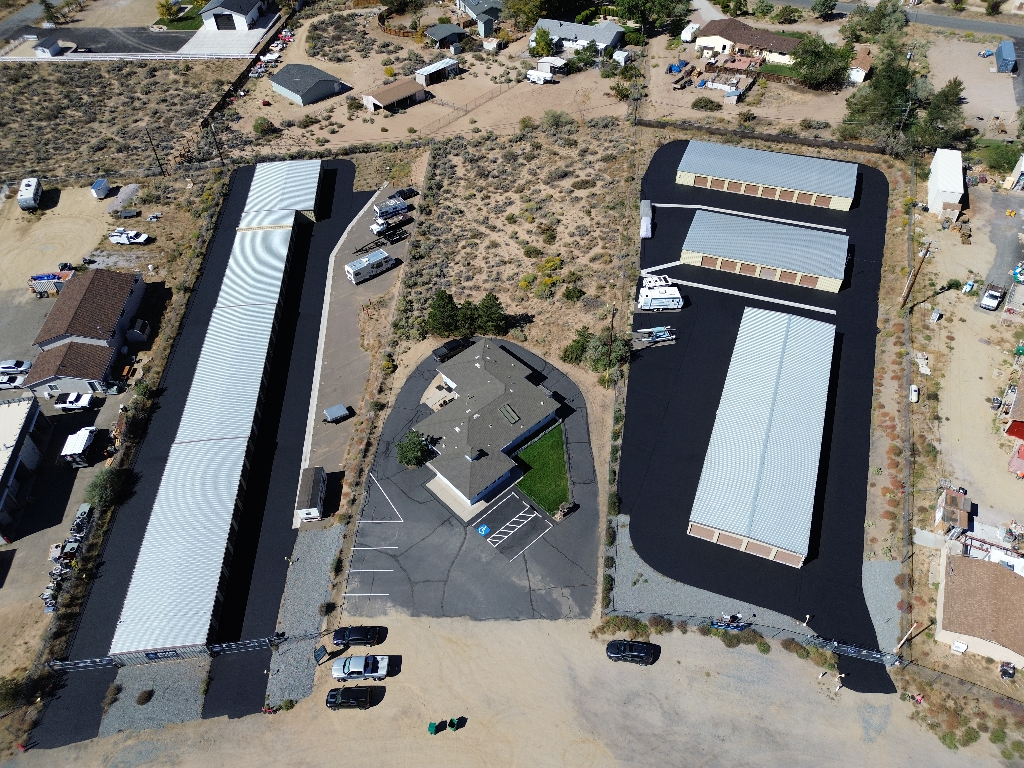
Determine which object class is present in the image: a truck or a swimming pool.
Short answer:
truck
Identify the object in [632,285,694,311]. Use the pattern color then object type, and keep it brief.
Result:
white trailer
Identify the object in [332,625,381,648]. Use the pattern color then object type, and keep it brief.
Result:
black car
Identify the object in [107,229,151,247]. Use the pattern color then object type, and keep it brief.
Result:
white vehicle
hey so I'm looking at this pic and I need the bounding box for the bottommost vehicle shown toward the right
[606,639,654,667]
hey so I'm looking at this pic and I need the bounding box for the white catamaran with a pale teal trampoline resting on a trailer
[628,325,676,341]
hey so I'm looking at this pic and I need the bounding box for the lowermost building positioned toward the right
[937,552,1019,662]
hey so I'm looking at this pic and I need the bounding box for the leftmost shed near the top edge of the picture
[32,34,67,58]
